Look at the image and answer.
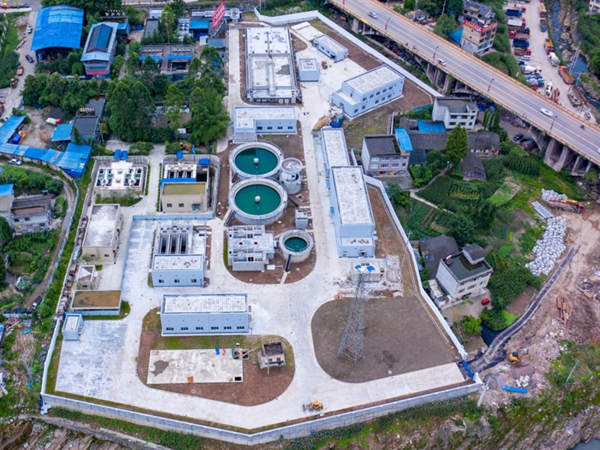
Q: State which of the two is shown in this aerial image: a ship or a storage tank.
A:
storage tank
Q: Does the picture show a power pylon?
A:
Yes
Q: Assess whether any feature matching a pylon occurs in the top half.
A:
No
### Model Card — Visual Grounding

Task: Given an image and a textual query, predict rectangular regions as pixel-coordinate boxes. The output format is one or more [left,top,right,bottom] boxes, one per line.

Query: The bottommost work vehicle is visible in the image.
[301,397,323,411]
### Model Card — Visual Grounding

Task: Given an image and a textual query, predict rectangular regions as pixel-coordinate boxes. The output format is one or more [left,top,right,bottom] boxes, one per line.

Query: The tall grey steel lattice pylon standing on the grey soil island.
[336,271,369,369]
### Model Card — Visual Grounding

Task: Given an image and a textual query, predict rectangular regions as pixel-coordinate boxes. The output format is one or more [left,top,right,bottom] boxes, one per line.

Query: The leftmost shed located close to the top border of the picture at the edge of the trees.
[26,5,90,66]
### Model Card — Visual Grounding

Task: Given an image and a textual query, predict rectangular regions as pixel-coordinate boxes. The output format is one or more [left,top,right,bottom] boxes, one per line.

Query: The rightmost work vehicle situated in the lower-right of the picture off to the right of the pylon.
[507,350,529,363]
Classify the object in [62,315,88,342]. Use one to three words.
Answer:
building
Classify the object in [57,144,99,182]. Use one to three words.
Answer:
shed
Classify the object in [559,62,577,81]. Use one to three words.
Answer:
vehicle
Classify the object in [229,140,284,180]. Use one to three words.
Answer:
storage tank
